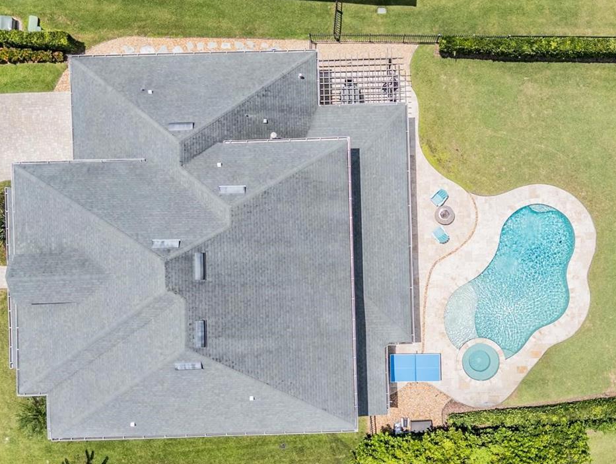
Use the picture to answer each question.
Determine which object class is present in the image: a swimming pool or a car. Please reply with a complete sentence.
This aerial view contains a swimming pool.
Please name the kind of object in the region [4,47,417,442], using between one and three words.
house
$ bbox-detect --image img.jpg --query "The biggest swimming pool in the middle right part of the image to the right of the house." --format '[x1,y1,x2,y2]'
[440,199,580,363]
